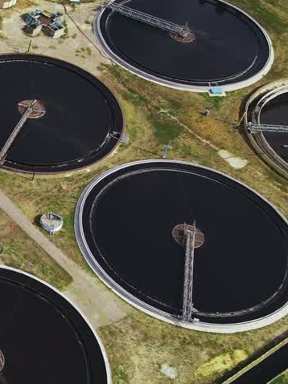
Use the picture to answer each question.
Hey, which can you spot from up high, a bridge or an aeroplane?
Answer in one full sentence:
The image shows a bridge.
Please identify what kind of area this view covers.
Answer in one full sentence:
What you see here is an industrial area.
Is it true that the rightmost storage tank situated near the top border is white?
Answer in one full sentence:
No, the rightmost storage tank situated near the top border is black.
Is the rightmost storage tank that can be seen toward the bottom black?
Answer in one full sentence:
Yes, black is the color of the rightmost storage tank that can be seen toward the bottom.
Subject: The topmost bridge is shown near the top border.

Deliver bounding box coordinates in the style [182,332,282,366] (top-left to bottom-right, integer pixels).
[102,0,193,39]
